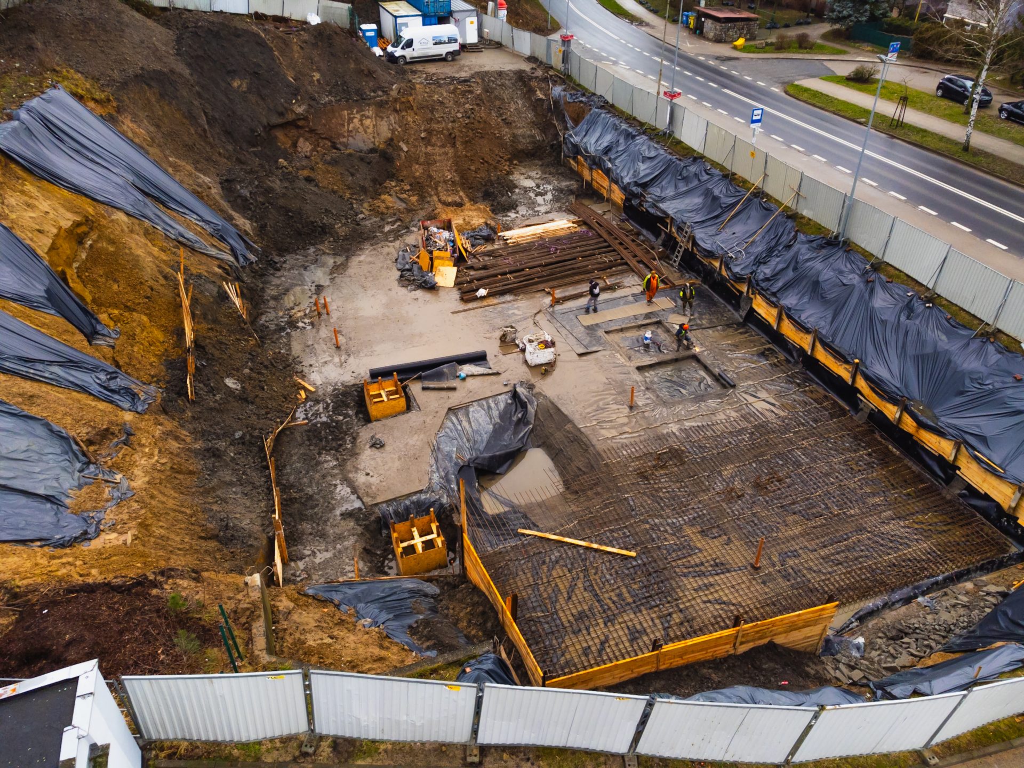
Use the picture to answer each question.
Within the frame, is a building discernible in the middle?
No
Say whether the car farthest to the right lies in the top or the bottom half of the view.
top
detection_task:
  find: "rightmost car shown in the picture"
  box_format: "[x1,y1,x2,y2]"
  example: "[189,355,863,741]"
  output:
[1002,100,1024,126]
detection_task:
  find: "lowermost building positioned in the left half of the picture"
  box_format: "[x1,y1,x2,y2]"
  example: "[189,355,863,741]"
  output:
[0,656,142,768]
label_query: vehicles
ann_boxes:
[1002,100,1024,126]
[939,71,998,106]
[384,20,463,65]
